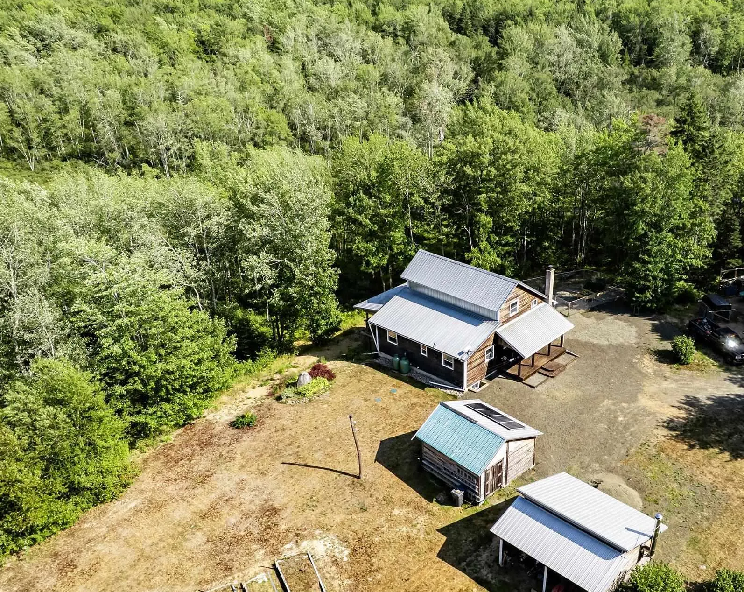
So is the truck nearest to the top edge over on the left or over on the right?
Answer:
right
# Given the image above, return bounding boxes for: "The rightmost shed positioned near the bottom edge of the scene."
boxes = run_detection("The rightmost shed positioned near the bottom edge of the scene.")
[491,473,667,592]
